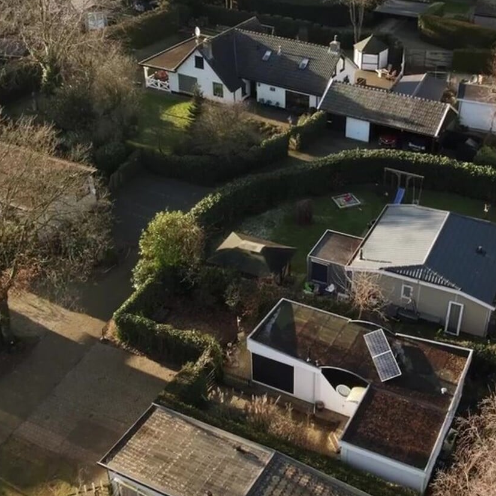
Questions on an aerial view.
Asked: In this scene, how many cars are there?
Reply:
2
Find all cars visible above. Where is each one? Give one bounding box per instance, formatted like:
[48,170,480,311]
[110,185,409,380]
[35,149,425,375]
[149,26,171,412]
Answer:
[405,129,443,155]
[373,125,406,147]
